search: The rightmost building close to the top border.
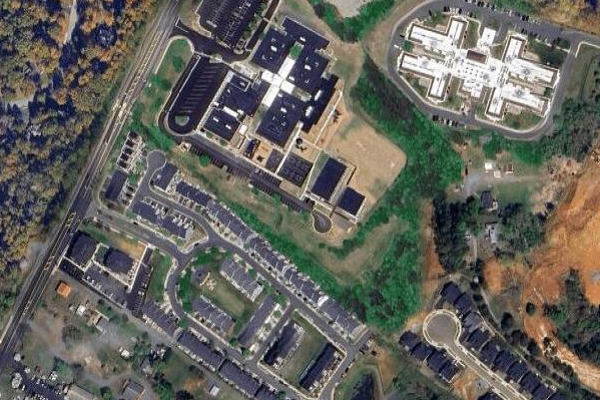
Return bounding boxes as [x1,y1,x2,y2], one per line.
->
[400,18,558,114]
